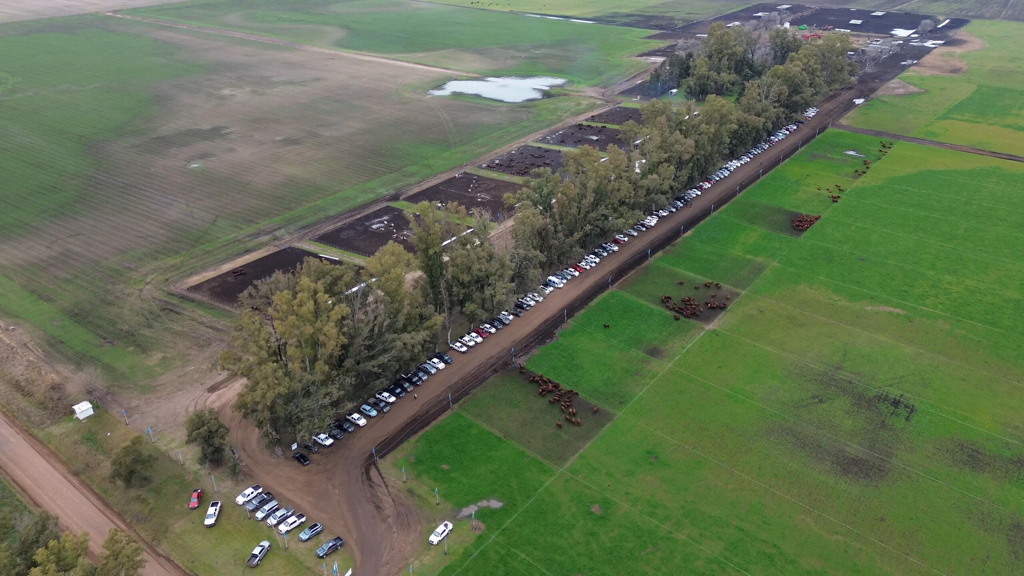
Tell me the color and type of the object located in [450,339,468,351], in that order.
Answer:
white vehicle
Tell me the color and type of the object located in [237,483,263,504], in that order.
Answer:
white truck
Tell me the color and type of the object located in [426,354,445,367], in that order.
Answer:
white vehicle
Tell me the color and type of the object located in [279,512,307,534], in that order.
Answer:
white truck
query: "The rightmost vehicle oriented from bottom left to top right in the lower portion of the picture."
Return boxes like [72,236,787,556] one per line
[431,520,453,545]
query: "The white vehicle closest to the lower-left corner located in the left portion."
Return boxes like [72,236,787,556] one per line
[204,501,221,525]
